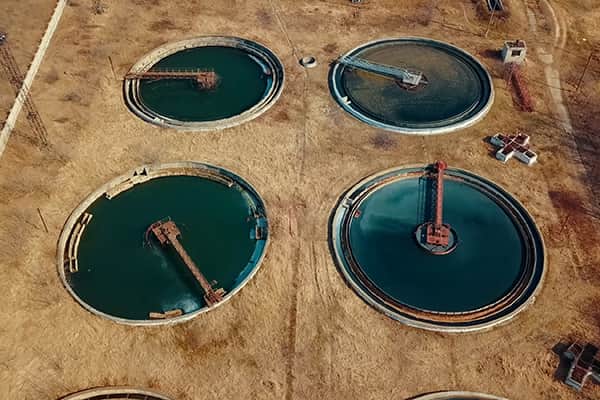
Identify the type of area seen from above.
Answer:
industrial area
